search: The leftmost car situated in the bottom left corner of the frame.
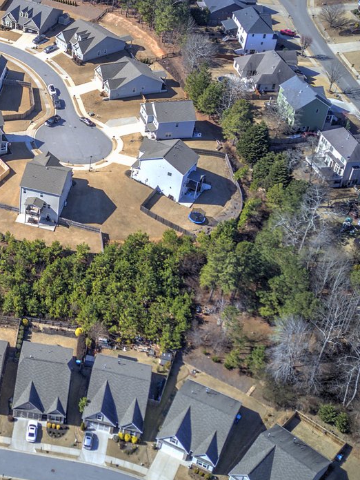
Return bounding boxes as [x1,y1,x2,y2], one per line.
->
[24,419,40,444]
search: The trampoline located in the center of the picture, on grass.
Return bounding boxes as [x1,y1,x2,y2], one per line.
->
[189,207,209,225]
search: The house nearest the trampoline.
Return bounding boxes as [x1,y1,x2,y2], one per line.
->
[126,135,212,202]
